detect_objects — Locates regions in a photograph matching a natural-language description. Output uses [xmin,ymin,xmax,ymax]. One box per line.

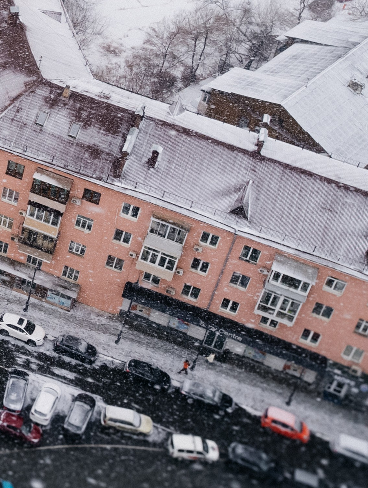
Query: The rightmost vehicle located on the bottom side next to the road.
[320,424,368,468]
